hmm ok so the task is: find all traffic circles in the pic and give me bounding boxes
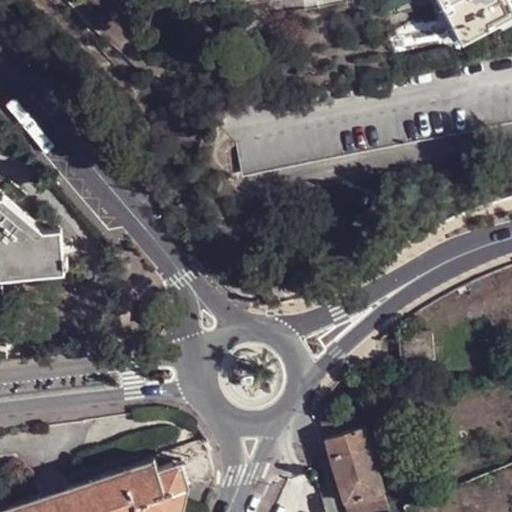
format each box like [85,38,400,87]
[172,305,326,446]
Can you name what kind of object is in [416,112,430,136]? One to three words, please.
vehicle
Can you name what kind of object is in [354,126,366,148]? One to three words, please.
vehicle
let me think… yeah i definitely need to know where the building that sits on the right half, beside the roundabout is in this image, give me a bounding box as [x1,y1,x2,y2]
[325,430,392,512]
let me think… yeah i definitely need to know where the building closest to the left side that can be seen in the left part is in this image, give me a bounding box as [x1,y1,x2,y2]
[0,192,73,284]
